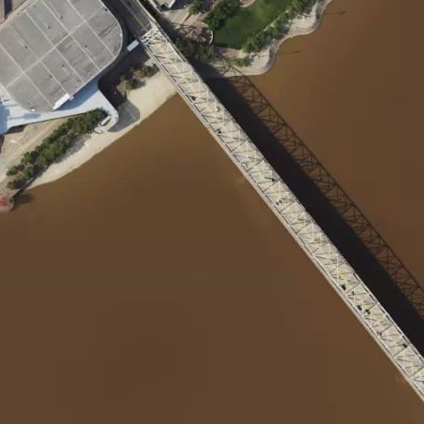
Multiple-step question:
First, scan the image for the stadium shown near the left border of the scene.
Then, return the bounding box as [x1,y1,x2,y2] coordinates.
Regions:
[0,0,124,134]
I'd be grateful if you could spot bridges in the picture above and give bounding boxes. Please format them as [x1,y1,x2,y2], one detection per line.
[135,22,424,400]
